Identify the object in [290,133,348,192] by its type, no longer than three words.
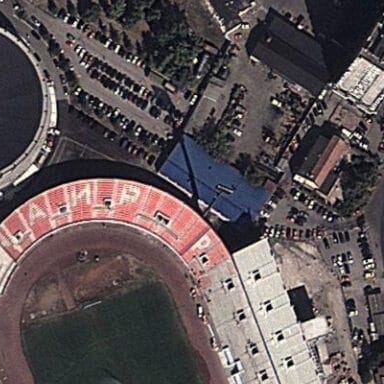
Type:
house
